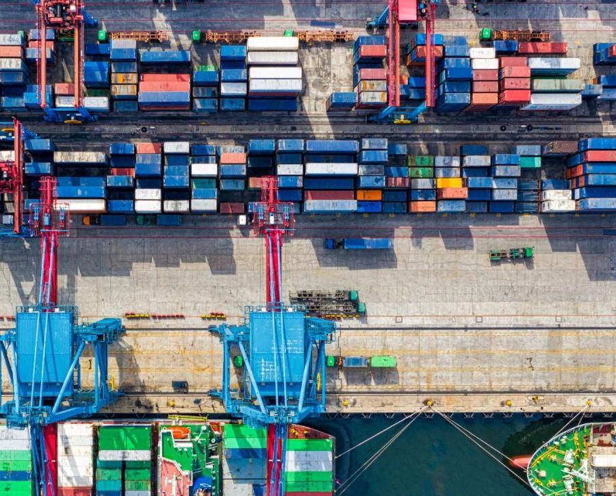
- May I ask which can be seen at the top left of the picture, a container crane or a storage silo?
container crane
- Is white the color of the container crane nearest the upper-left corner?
No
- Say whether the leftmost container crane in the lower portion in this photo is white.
No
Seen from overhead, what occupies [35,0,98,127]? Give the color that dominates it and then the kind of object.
red container crane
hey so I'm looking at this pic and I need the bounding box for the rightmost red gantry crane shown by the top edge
[363,0,442,127]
